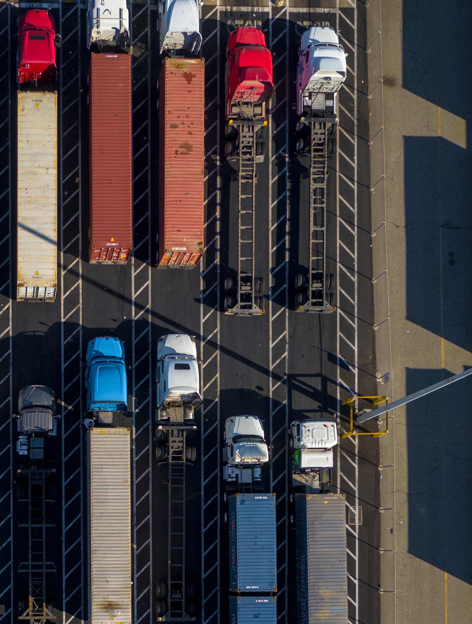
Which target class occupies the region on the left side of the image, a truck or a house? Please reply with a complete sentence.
What appears on the left side of the image is a truck.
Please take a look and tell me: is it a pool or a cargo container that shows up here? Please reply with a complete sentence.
Looking from above, you can make out a cargo container.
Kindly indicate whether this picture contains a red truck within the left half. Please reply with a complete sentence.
Yes, a red truck is visible within the left half.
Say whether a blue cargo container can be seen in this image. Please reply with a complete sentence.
Yes, the picture does show a blue cargo container.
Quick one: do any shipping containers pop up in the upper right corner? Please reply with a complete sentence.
No, there is no shipping container in the upper right corner.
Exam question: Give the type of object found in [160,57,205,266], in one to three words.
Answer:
shipping container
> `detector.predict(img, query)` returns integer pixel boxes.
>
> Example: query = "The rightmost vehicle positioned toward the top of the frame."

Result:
[297,27,350,164]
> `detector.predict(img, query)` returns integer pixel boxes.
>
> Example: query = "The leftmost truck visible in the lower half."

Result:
[13,384,62,514]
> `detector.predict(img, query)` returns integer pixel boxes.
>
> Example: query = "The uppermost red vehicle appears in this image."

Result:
[13,8,62,91]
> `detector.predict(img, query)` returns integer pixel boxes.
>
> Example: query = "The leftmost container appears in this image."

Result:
[17,91,57,299]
